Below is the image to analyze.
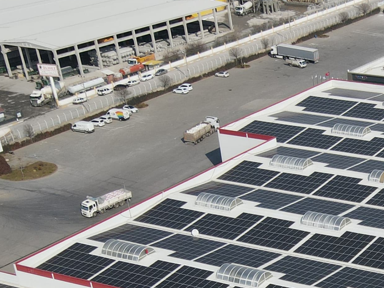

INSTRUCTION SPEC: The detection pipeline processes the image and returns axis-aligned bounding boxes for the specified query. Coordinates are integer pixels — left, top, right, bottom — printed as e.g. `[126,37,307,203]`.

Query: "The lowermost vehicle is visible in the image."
[82,186,134,215]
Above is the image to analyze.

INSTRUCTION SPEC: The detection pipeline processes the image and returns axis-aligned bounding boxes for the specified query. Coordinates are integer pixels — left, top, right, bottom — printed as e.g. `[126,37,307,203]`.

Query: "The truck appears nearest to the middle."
[183,115,225,144]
